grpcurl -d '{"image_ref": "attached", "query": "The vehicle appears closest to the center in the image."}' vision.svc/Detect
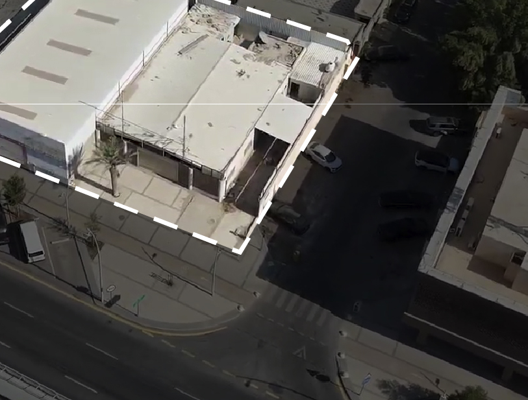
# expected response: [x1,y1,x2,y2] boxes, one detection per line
[266,199,312,237]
